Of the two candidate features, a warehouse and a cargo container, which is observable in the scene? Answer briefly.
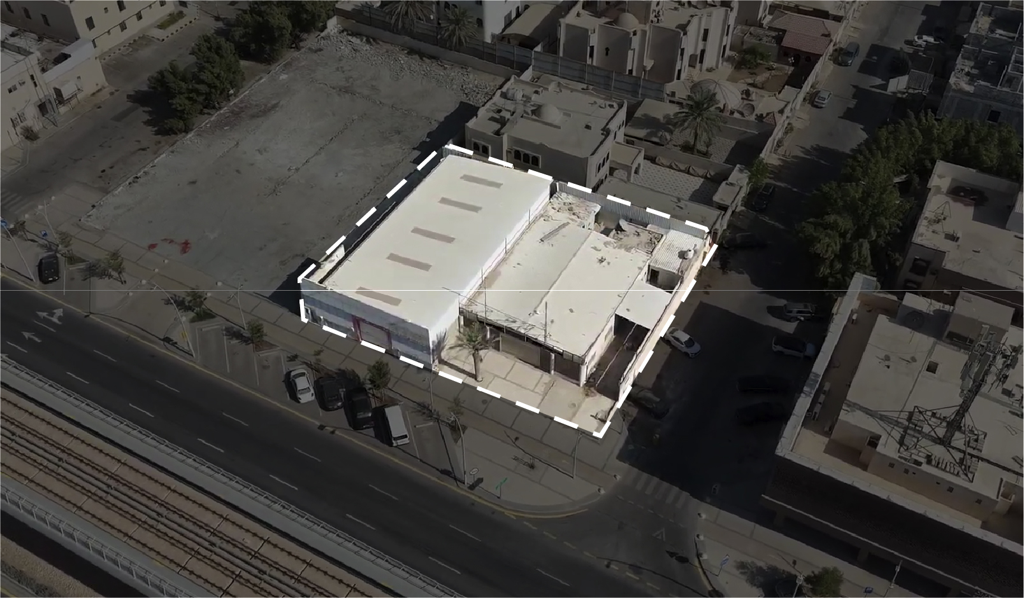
warehouse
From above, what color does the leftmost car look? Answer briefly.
black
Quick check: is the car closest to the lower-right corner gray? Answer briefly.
No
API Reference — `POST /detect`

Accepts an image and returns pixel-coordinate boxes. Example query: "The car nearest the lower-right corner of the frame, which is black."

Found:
[754,560,807,598]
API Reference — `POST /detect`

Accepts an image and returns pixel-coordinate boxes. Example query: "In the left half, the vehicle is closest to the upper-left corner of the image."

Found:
[39,255,66,287]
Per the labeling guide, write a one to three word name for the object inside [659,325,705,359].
car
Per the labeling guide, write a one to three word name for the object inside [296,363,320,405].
car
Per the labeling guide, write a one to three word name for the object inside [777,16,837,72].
house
